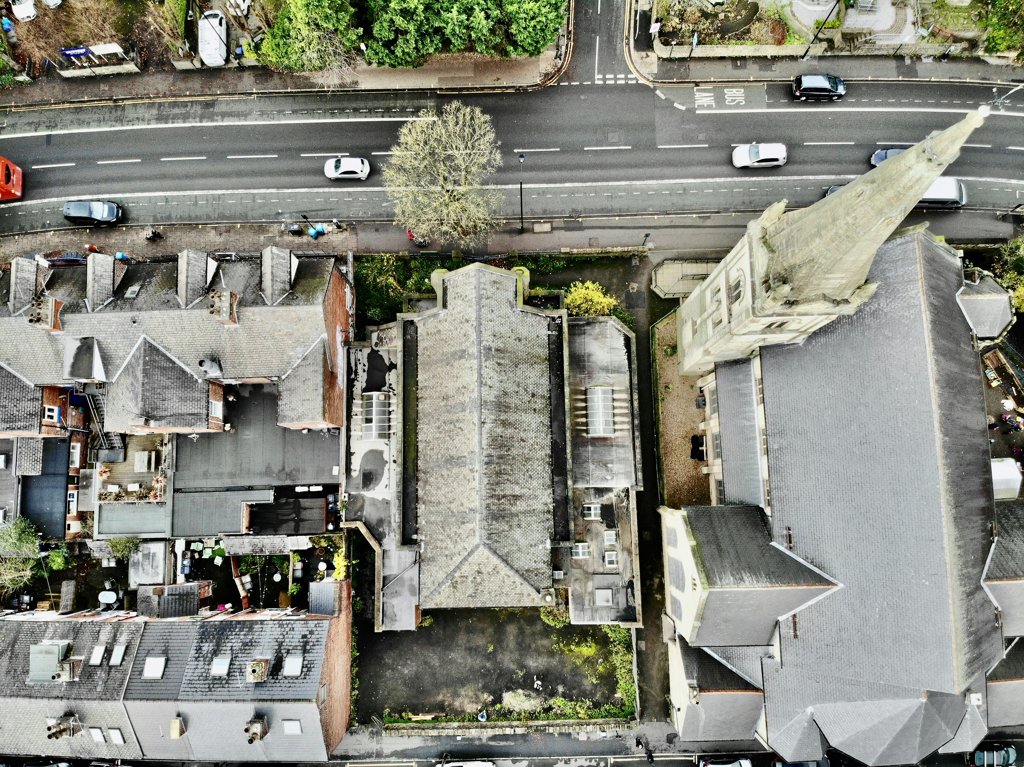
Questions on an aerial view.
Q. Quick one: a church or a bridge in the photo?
church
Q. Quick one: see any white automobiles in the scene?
Yes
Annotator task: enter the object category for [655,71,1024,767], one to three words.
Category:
church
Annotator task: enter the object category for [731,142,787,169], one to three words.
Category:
car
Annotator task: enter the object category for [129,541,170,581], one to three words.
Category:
shed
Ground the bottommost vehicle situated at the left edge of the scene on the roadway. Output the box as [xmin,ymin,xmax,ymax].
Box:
[0,166,38,209]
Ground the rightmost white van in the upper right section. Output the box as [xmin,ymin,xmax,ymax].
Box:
[916,176,962,209]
